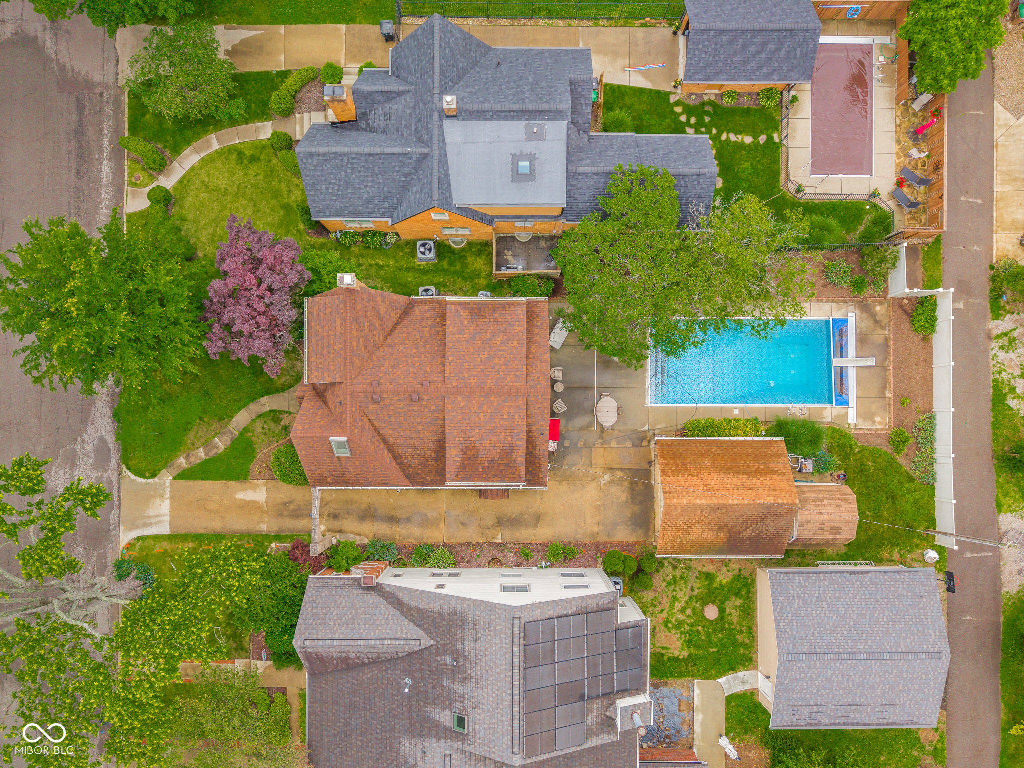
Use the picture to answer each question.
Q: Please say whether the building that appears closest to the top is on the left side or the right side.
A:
right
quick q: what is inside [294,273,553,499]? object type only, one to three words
house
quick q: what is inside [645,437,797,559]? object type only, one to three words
building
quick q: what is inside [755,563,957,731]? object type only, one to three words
building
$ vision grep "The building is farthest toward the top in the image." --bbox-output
[678,0,825,105]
